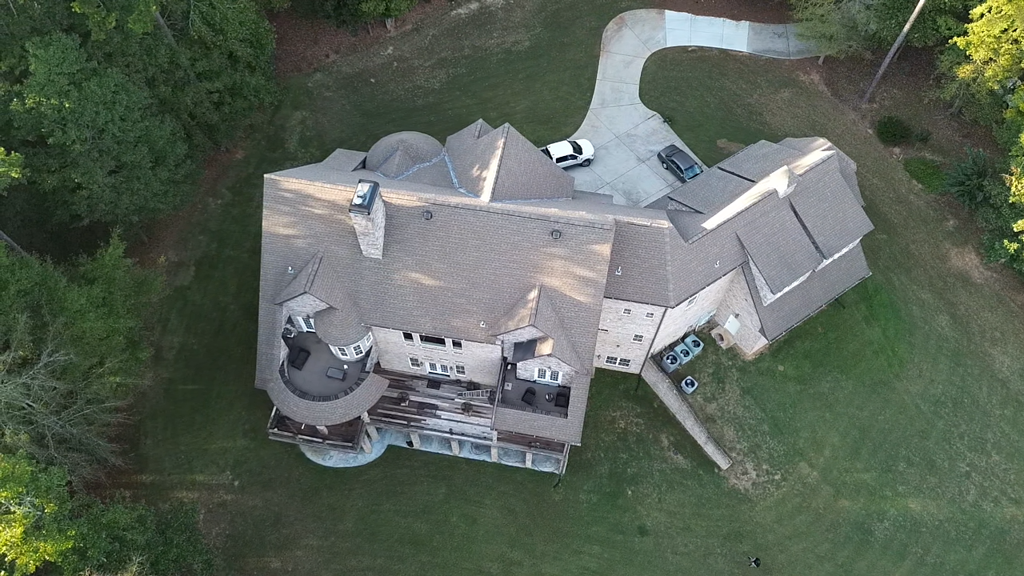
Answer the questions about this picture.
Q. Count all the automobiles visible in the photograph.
2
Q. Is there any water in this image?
No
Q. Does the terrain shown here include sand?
No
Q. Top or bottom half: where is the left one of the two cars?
top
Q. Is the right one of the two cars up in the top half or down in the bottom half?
top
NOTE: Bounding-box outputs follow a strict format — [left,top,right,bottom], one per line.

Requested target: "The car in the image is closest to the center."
[536,134,598,169]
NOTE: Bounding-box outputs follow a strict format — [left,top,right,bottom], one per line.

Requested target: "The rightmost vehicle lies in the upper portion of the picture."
[661,139,710,181]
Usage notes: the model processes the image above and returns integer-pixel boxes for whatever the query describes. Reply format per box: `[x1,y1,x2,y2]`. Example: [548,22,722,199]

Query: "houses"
[256,118,876,454]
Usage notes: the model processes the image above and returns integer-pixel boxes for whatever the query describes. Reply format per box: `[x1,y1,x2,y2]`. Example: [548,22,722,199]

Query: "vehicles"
[661,139,710,181]
[536,134,598,169]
